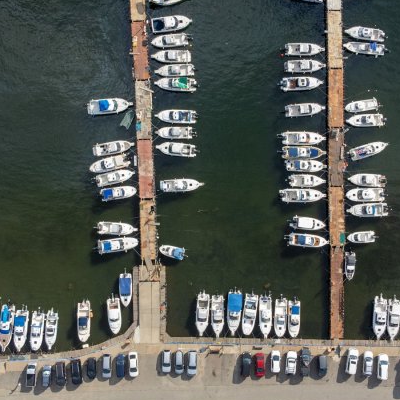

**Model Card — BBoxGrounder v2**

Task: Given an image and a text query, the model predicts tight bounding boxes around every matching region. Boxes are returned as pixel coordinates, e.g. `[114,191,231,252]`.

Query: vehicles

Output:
[255,352,266,377]
[300,348,312,377]
[241,352,252,377]
[377,353,389,380]
[362,350,374,376]
[174,350,184,373]
[70,359,82,385]
[128,351,139,377]
[86,357,96,379]
[270,350,280,373]
[102,353,112,377]
[25,362,38,388]
[161,349,171,373]
[317,354,329,377]
[345,348,359,375]
[286,350,297,375]
[186,350,198,375]
[54,361,66,387]
[116,353,126,377]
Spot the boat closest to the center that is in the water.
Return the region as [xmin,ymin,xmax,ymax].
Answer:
[151,178,205,193]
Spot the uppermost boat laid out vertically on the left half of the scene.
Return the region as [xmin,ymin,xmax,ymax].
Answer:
[120,268,133,307]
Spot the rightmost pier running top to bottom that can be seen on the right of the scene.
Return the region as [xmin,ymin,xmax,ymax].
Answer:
[325,0,348,339]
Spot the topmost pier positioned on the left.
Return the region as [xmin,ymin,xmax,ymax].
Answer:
[129,0,159,265]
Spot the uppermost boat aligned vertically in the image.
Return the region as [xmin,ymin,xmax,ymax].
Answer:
[343,246,358,284]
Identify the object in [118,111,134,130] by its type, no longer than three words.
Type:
boat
